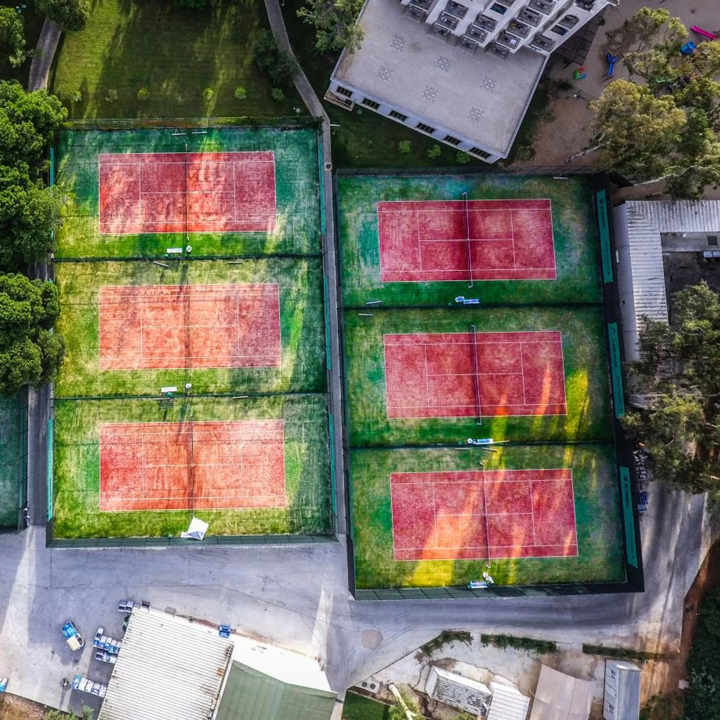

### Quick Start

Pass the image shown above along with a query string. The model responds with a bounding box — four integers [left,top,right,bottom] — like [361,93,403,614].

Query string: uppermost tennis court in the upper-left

[55,129,323,260]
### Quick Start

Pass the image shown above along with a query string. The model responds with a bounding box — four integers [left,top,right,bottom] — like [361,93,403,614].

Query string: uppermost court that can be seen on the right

[341,173,603,308]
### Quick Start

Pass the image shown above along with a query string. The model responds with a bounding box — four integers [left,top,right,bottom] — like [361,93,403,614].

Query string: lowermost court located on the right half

[354,442,627,589]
